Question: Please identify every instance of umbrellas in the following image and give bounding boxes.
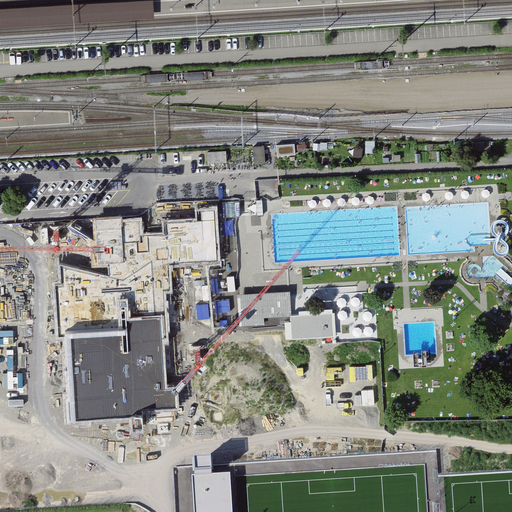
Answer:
[337,198,346,206]
[337,310,348,320]
[460,190,470,200]
[422,192,431,202]
[336,296,348,308]
[444,190,454,200]
[480,188,490,198]
[362,326,374,336]
[322,198,332,208]
[308,198,317,208]
[352,326,362,338]
[365,196,374,205]
[351,196,360,206]
[362,310,373,322]
[350,296,361,307]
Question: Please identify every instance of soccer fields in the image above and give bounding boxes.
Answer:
[246,464,426,512]
[444,473,512,512]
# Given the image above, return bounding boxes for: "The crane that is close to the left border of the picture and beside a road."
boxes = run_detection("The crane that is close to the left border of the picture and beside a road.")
[0,226,114,256]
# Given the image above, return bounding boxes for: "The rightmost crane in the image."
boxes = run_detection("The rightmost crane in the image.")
[172,248,302,394]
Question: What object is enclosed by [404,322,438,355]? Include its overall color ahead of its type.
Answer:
blue swimming pool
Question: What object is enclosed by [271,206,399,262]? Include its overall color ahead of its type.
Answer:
blue swimming pool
